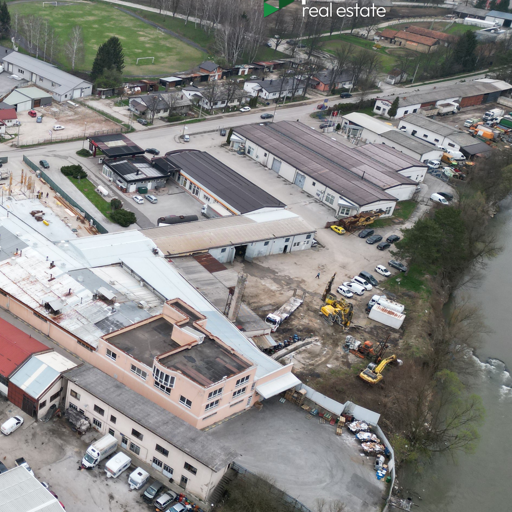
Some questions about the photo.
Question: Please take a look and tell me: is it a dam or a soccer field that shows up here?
soccer field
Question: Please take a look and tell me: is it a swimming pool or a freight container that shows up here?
freight container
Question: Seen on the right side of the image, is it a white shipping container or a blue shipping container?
white shipping container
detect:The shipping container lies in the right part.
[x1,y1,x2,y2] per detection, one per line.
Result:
[368,305,404,330]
